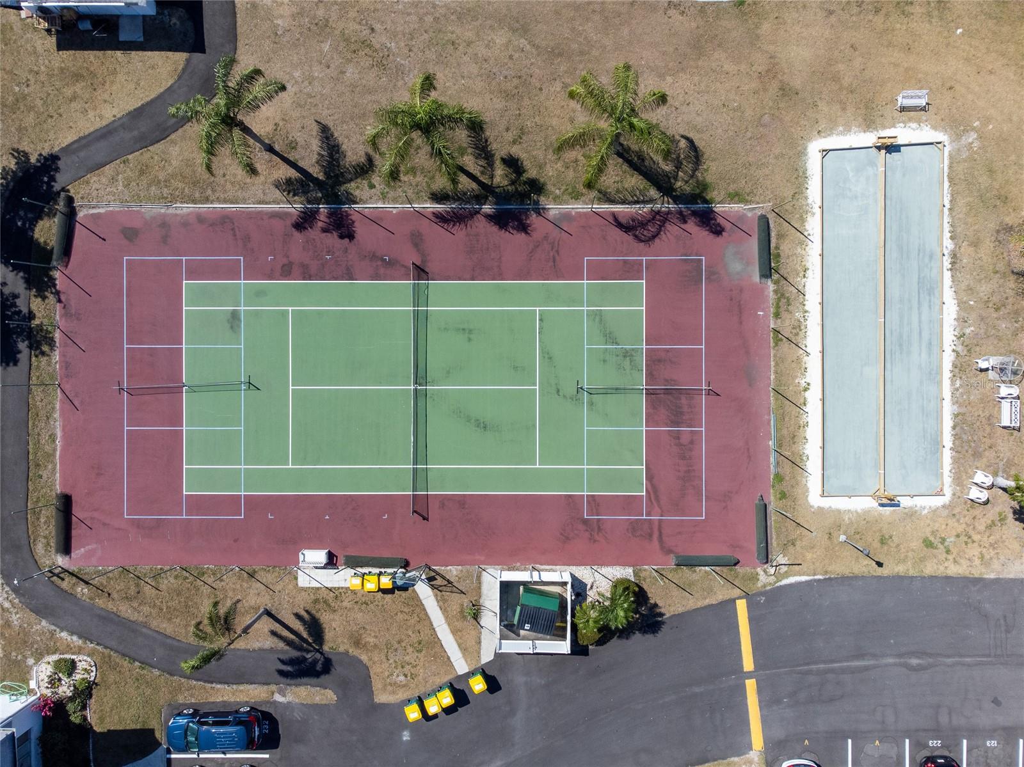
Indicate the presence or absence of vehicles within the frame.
Yes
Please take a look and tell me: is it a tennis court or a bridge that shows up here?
tennis court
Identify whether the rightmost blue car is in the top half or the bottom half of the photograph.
bottom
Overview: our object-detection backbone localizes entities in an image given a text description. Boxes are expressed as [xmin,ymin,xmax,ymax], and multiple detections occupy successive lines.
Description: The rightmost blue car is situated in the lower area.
[168,706,264,760]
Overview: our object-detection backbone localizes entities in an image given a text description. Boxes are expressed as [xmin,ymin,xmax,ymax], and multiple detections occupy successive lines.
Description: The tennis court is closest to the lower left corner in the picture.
[57,208,771,567]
